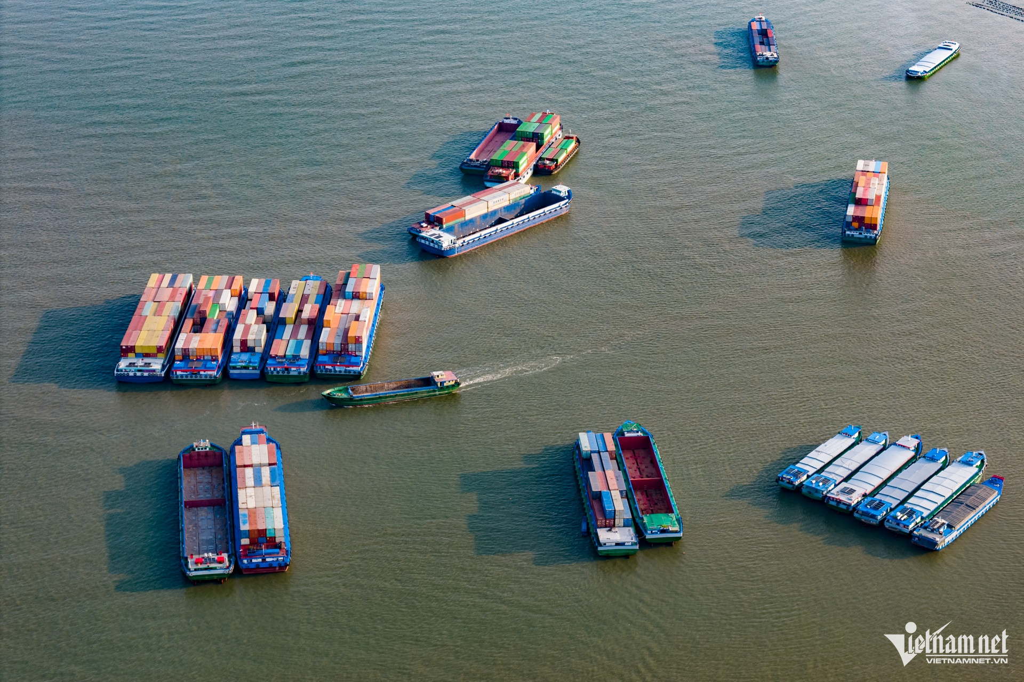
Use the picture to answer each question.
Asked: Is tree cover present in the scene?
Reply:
No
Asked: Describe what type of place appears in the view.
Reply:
port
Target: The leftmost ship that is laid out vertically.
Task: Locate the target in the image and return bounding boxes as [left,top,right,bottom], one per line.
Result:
[177,432,237,587]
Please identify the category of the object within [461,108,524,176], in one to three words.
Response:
ship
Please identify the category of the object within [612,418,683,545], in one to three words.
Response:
ship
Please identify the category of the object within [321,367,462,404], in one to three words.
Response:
boat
